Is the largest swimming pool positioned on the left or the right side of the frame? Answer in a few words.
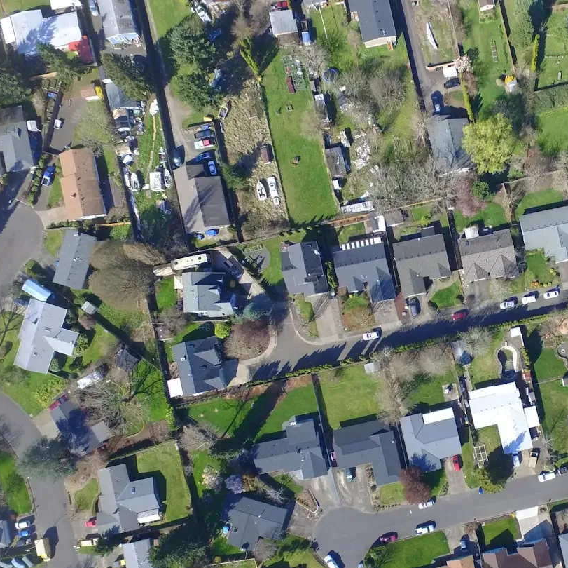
right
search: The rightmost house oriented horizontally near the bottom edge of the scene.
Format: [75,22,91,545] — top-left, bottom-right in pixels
[480,537,555,568]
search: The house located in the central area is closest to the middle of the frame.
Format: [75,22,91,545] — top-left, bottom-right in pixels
[278,241,329,301]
